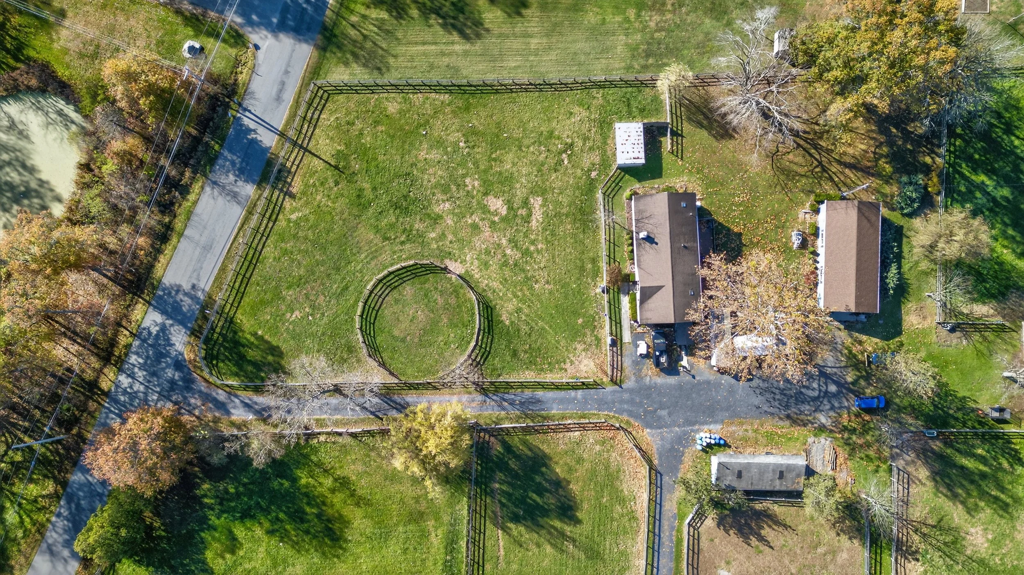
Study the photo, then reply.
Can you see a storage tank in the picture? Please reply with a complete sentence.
No, no storage tank is visible in the view.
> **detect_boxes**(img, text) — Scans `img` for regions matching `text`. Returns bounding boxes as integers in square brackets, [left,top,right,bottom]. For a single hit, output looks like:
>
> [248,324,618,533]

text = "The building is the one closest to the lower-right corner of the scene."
[712,451,808,492]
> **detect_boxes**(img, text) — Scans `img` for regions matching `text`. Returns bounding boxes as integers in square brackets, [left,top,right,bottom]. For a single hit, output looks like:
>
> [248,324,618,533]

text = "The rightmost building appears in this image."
[816,199,882,313]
